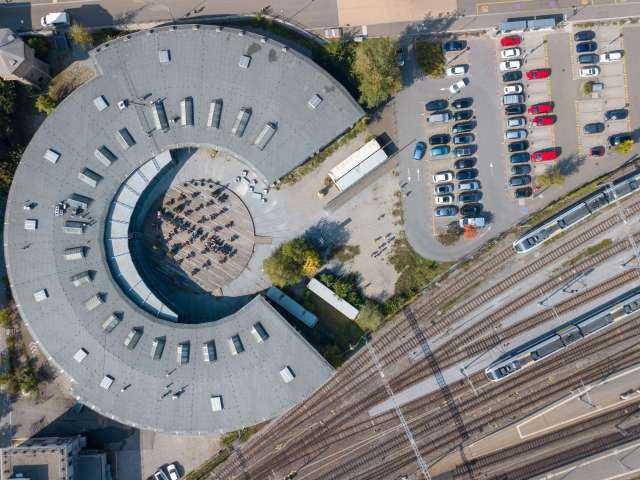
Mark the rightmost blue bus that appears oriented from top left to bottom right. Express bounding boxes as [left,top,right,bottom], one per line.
[267,286,318,328]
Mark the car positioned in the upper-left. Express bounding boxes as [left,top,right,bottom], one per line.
[42,13,69,26]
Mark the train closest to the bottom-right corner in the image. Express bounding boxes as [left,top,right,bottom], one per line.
[480,291,640,376]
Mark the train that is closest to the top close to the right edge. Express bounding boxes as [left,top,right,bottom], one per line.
[508,171,640,252]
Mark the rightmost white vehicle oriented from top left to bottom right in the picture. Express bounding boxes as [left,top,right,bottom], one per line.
[308,278,356,319]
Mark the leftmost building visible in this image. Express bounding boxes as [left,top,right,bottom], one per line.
[0,435,87,480]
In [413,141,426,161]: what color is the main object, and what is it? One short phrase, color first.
blue vehicle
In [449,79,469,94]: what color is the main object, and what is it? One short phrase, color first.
white car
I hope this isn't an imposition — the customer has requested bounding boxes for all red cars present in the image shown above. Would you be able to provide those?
[500,36,521,47]
[531,151,558,162]
[528,103,553,115]
[526,69,550,80]
[531,115,555,127]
